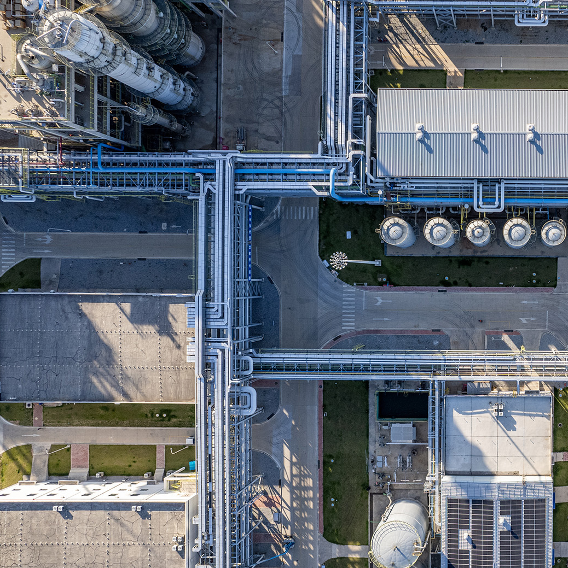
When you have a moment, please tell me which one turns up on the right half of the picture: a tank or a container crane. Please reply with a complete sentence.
Looking on the right half of the picture, you will find a tank.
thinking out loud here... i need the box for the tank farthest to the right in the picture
[539,216,568,247]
